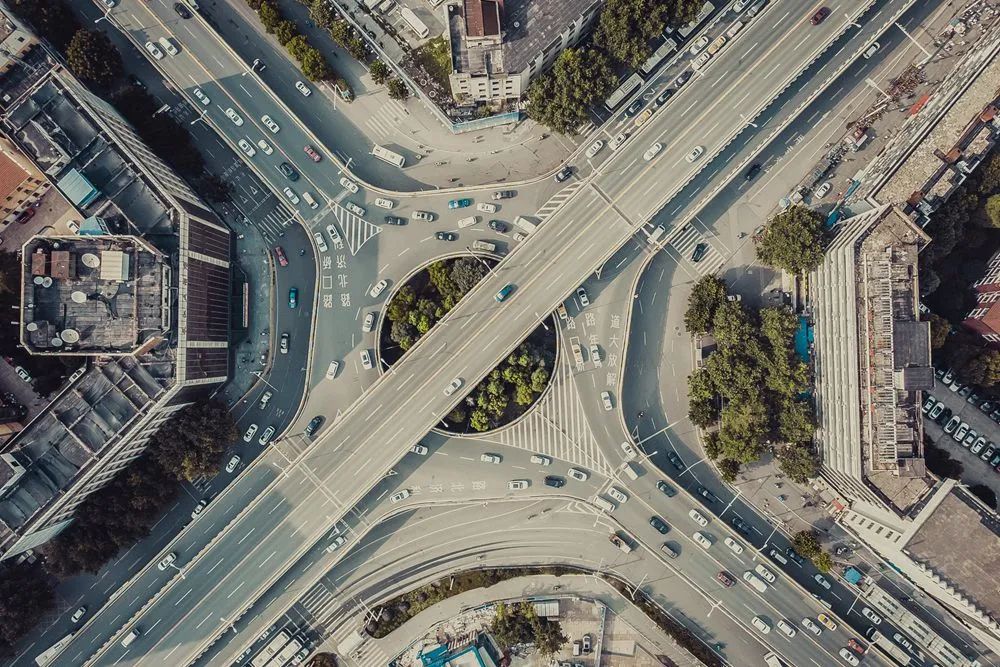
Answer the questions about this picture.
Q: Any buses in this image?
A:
Yes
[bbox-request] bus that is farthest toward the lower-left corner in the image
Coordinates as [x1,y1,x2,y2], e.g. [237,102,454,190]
[34,628,77,667]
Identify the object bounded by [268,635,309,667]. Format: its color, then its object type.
white bus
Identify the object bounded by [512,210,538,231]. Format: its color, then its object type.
white vehicle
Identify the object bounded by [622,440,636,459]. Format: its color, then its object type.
white vehicle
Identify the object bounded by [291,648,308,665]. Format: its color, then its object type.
white car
